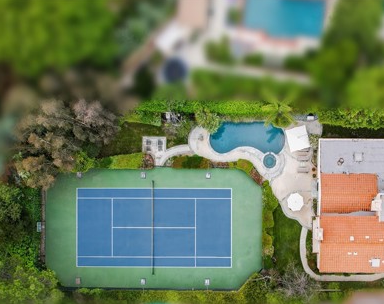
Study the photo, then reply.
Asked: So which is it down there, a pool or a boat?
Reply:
pool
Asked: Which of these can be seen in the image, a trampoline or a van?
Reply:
trampoline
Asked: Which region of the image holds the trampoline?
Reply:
top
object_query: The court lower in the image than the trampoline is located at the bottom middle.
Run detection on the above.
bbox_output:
[45,168,261,289]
